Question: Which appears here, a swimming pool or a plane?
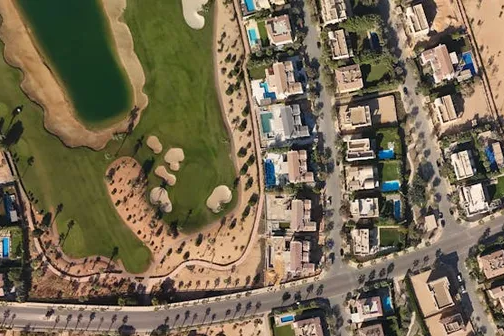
swimming pool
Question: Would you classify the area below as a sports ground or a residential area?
residential area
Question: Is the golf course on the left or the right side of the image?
left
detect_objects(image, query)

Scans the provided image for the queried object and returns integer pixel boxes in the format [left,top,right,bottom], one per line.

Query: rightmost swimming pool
[483,144,497,169]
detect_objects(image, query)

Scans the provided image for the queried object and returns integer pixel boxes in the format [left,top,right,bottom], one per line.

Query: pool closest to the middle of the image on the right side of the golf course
[264,155,286,189]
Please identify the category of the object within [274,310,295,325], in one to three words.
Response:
swimming pool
